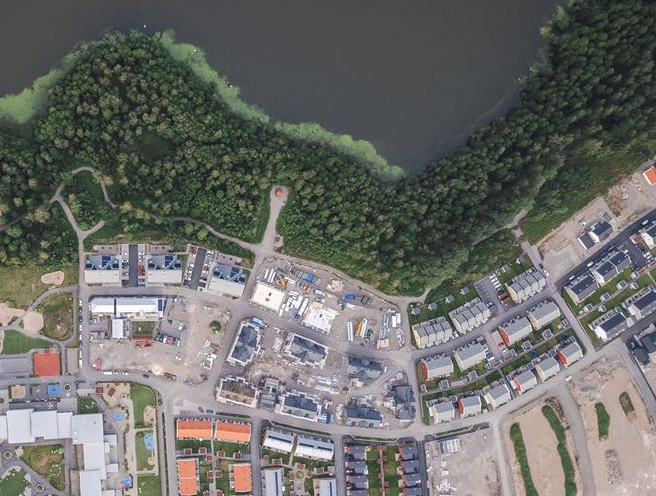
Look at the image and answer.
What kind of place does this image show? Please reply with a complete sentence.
This image shows a residential area.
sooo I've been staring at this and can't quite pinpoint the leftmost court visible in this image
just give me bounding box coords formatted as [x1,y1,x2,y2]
[0,355,31,377]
